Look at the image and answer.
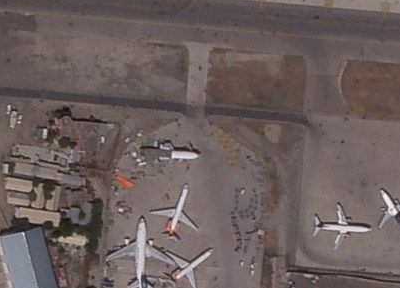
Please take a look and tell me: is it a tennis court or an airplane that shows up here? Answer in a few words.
airplane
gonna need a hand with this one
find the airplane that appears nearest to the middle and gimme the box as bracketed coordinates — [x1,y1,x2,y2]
[140,143,200,159]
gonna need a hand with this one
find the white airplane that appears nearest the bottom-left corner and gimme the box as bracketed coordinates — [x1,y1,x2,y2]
[107,216,176,288]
